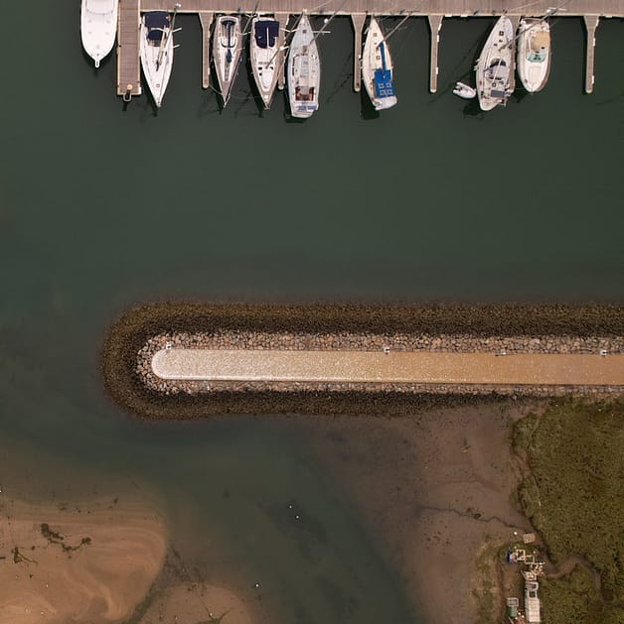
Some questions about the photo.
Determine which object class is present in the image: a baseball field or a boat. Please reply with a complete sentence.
Of the two, only a boat appears.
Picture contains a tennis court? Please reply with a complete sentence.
No, the scene contains no tennis court.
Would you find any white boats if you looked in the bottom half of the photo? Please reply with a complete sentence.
No, in the bottom half of the photo there is no white boat.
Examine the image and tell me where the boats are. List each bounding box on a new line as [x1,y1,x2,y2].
[80,0,117,67]
[449,81,476,97]
[476,0,574,116]
[212,1,260,107]
[363,0,429,112]
[141,0,183,107]
[249,6,306,108]
[513,18,551,92]
[285,0,346,121]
